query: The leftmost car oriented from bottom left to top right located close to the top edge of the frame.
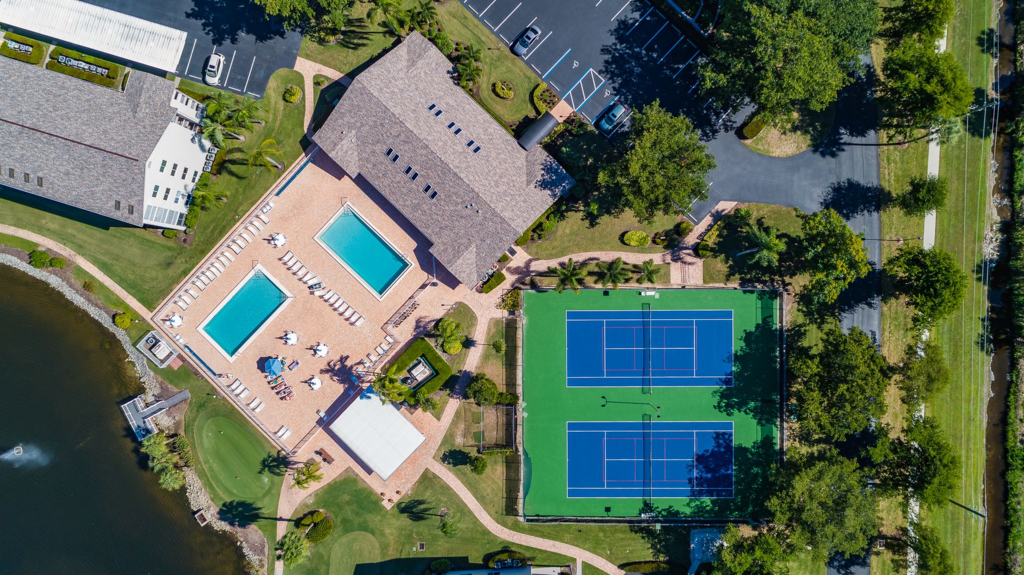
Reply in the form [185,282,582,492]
[513,24,541,56]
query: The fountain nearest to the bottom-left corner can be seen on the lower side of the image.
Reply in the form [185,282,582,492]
[0,442,51,474]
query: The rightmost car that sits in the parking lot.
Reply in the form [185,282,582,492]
[599,102,629,132]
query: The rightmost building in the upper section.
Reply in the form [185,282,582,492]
[313,30,574,289]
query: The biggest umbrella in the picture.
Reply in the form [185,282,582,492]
[265,358,282,376]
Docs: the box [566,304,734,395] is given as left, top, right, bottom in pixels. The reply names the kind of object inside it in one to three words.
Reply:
tennis court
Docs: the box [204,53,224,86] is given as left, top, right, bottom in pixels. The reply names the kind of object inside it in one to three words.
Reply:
car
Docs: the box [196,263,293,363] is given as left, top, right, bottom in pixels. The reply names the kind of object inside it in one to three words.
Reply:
swimming pool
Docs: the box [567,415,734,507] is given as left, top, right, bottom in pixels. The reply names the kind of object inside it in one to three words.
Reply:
tennis court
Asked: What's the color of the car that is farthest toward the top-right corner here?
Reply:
blue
